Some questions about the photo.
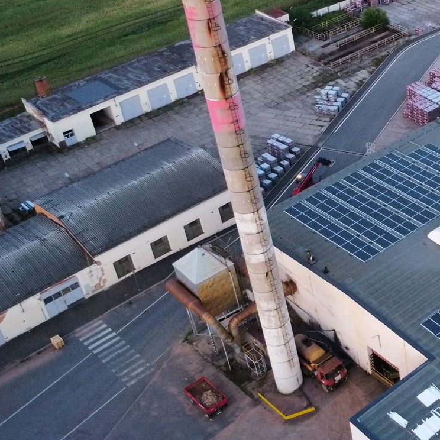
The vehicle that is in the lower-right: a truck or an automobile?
truck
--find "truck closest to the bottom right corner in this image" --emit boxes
[291,335,350,395]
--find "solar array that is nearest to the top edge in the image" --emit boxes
[282,143,440,263]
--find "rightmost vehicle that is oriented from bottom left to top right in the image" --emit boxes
[292,160,337,198]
